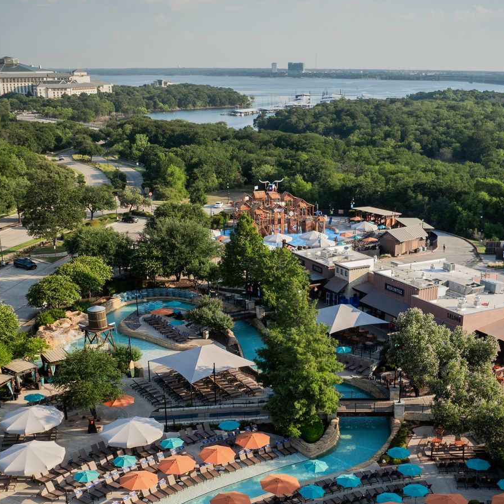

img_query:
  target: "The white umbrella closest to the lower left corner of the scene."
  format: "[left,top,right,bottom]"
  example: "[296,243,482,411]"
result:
[0,447,65,501]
